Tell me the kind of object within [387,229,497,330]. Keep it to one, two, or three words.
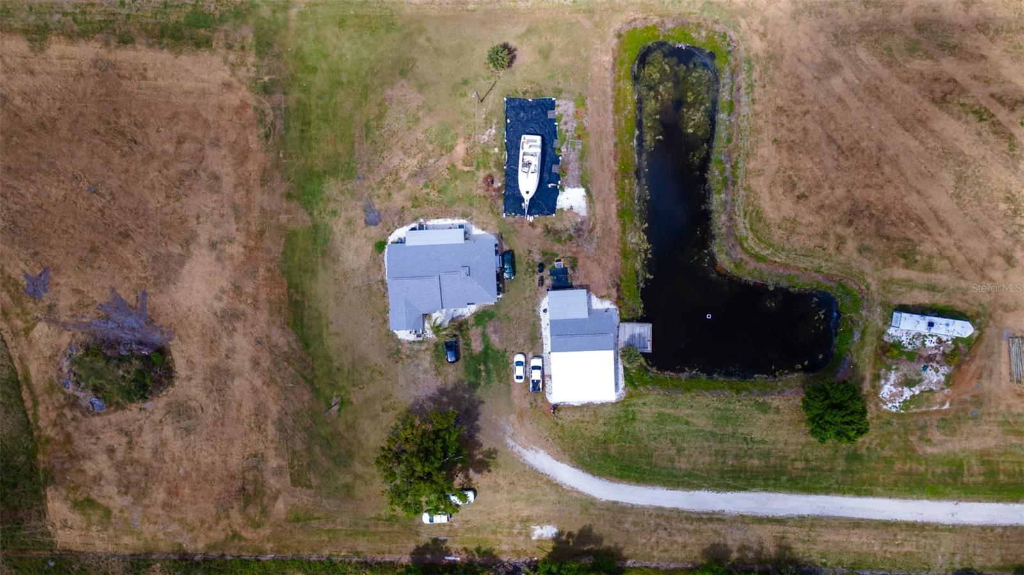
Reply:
house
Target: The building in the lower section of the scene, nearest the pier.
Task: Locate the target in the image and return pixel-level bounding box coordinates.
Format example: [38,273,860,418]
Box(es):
[548,289,616,405]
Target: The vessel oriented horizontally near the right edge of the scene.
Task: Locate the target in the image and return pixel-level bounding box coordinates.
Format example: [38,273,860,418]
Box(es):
[892,311,974,337]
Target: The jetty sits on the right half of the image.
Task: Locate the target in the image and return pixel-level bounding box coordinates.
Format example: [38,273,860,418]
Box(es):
[618,322,652,353]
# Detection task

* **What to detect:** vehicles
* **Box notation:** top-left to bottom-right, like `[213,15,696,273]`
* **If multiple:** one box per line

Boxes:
[422,511,450,526]
[444,339,458,364]
[502,249,516,280]
[448,488,476,505]
[529,356,544,394]
[512,353,526,384]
